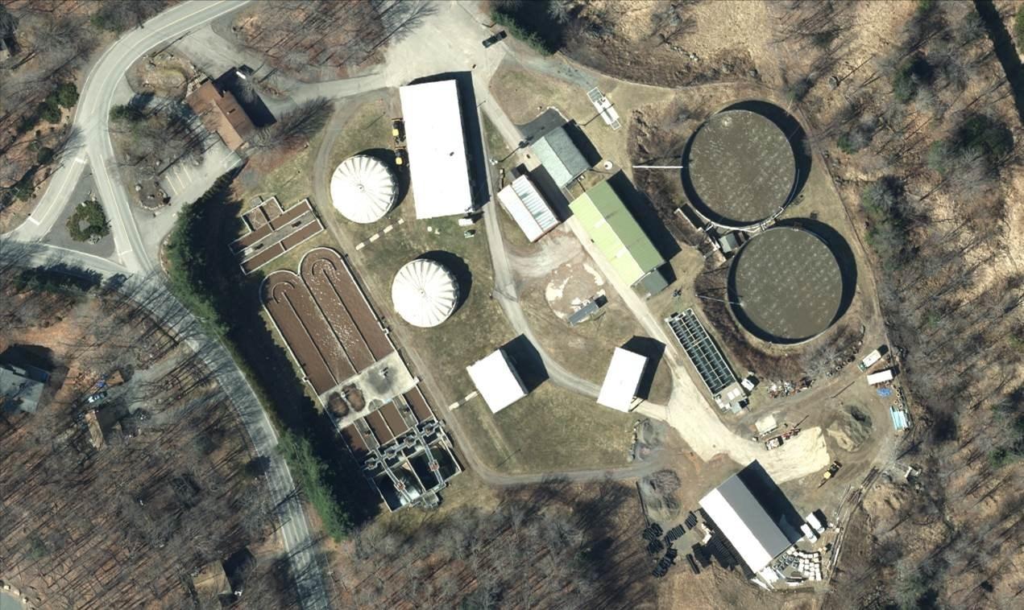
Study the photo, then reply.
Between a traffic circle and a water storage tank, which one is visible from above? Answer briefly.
water storage tank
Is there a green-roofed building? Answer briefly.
Yes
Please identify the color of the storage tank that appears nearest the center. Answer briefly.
white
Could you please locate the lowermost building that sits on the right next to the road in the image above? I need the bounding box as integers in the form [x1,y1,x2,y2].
[699,475,793,574]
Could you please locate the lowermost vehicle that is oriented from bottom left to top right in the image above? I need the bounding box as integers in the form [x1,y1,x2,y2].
[815,458,843,486]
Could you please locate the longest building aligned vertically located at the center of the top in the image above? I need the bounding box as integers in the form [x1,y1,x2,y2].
[400,79,475,219]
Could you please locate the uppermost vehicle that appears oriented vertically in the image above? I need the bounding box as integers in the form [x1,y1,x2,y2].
[390,115,402,137]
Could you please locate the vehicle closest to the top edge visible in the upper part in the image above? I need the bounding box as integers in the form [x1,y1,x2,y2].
[482,31,504,46]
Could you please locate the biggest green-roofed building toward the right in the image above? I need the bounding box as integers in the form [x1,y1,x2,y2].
[569,180,668,286]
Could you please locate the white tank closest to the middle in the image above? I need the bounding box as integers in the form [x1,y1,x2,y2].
[390,258,461,327]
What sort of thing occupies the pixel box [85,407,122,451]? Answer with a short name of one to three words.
house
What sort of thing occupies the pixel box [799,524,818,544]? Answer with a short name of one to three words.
vehicle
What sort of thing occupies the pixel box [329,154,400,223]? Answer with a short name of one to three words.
storage tank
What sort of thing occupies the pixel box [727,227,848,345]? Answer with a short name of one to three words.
water tank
